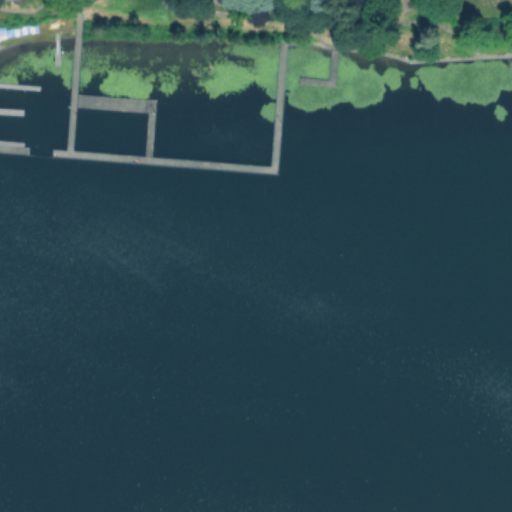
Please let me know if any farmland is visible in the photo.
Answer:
No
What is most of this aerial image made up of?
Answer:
water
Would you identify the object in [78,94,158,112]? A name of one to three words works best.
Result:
pier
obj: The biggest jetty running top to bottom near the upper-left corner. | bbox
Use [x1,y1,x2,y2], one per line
[68,12,84,150]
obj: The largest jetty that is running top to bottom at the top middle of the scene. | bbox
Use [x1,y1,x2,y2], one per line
[272,42,288,166]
